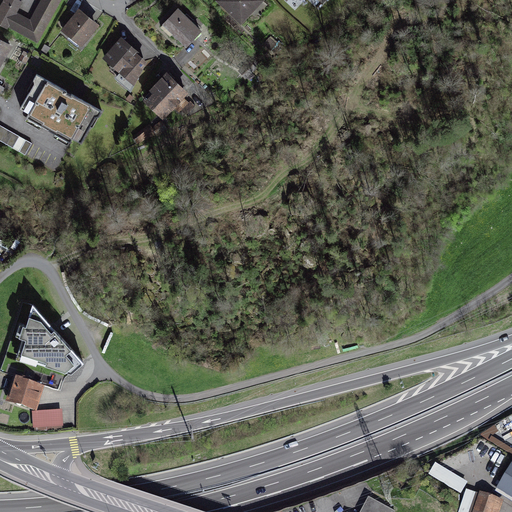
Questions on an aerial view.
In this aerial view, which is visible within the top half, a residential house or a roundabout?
residential house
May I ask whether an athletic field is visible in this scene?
No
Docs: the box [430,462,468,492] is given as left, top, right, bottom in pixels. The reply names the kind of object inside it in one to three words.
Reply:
building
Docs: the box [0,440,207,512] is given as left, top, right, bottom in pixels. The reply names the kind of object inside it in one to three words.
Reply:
bridge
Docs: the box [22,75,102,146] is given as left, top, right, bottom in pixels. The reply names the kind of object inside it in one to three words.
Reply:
building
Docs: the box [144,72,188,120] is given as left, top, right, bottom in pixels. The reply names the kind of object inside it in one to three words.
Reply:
house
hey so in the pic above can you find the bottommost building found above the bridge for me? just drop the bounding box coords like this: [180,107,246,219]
[32,408,63,429]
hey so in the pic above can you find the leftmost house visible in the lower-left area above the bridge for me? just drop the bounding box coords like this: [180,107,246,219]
[6,374,44,412]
